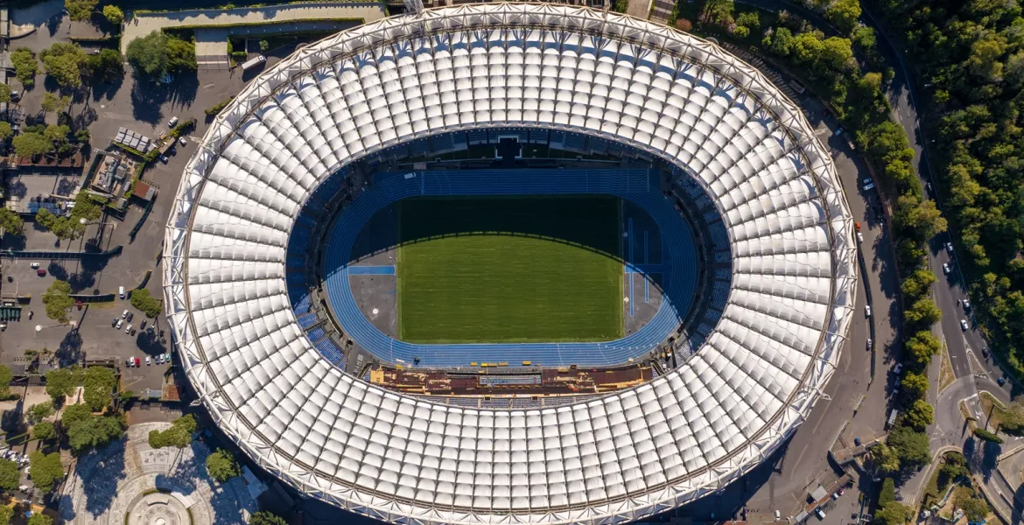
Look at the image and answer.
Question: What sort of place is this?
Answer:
sports ground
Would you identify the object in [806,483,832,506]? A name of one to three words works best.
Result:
building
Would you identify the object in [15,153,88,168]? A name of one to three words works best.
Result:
building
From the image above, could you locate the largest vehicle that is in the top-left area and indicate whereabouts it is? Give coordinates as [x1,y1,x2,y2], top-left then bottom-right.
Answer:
[240,55,265,70]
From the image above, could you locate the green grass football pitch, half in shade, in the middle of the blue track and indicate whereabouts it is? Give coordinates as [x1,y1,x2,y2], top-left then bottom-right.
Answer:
[398,195,622,342]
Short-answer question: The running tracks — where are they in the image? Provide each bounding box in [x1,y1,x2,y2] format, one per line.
[325,169,699,367]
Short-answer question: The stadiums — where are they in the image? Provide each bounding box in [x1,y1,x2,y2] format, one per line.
[163,2,856,525]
